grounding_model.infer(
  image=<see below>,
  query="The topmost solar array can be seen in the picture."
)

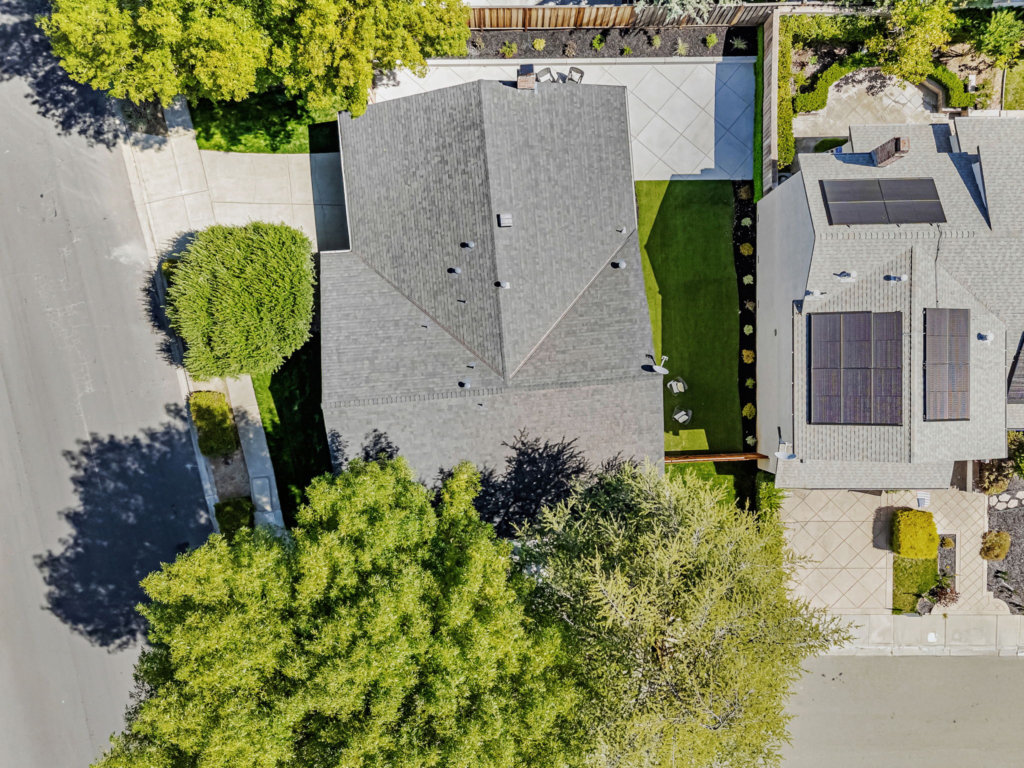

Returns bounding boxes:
[818,181,949,227]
